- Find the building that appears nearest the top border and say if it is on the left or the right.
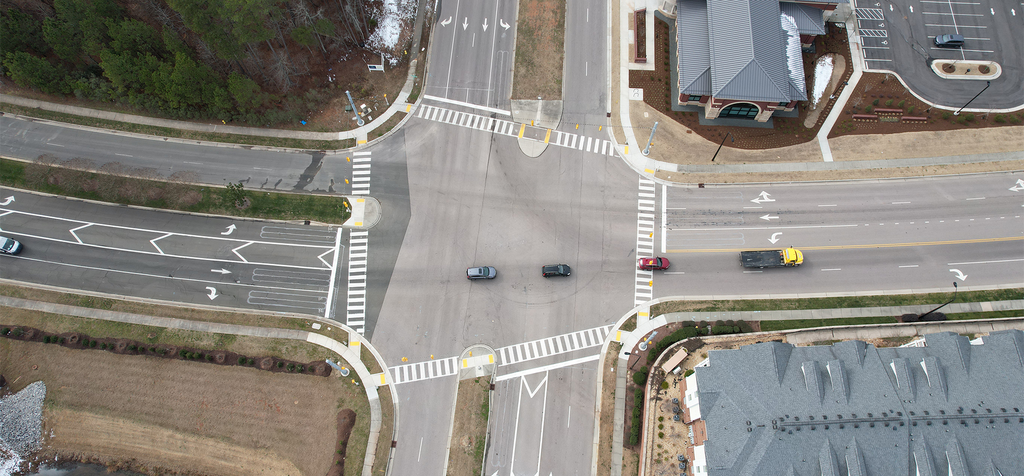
right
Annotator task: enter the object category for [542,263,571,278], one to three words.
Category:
car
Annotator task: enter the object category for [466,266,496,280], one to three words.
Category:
car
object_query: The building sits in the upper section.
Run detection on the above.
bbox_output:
[676,0,852,120]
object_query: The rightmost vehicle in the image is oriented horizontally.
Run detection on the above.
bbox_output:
[934,32,966,47]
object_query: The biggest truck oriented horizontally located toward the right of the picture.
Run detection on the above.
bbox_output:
[731,246,808,269]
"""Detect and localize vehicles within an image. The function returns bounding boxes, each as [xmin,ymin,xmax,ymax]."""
[0,236,22,254]
[934,32,966,47]
[466,266,496,280]
[638,256,669,271]
[542,263,571,278]
[731,246,808,269]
